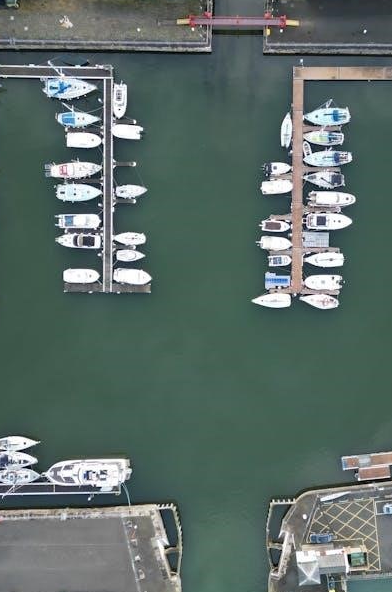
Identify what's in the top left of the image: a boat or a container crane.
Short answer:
boat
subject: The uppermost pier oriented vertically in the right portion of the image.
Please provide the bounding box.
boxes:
[268,80,340,296]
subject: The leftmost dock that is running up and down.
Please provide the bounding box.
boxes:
[63,78,151,296]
